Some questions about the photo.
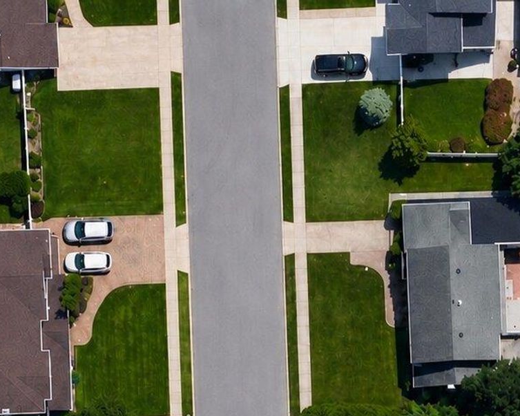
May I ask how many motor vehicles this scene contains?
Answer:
3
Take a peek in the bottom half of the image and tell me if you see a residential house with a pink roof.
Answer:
No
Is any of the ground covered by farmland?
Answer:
No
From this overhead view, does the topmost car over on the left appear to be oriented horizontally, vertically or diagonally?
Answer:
horizontally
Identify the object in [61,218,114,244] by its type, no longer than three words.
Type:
car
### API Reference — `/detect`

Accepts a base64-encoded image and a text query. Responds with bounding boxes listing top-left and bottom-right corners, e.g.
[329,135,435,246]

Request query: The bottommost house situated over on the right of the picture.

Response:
[402,196,520,393]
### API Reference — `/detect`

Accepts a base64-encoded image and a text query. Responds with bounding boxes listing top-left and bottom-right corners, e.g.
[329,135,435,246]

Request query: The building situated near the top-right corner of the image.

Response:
[385,0,497,59]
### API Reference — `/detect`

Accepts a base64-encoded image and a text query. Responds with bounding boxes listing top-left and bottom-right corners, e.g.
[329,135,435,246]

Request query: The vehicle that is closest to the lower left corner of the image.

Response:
[63,250,112,274]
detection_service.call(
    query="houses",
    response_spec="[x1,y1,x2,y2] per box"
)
[0,0,60,71]
[0,230,73,416]
[402,196,520,393]
[385,0,497,59]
